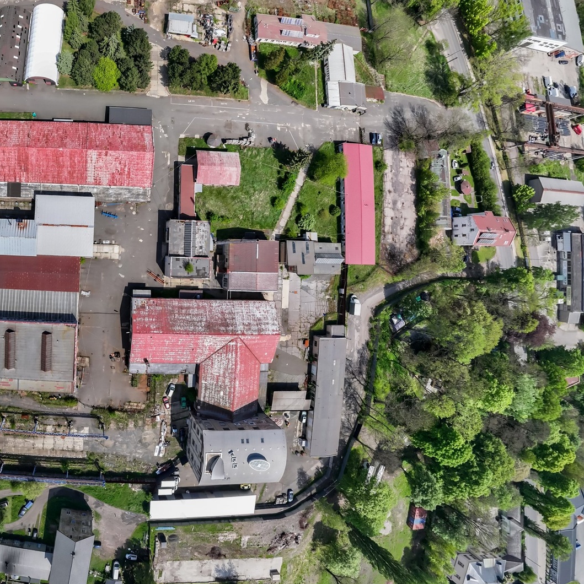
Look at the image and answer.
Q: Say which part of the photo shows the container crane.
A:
top right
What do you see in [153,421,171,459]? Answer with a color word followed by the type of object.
white vehicle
